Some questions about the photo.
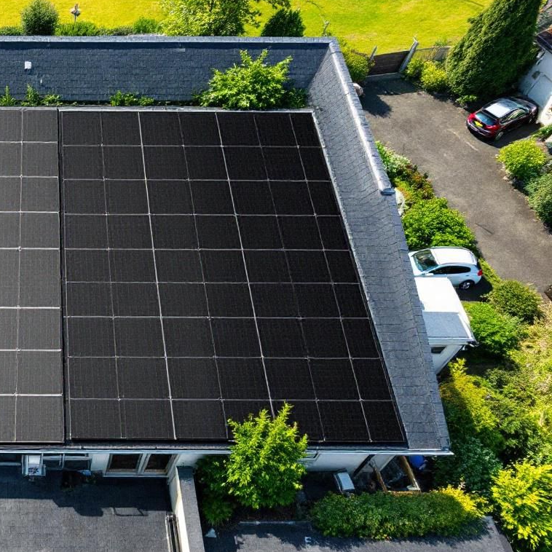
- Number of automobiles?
2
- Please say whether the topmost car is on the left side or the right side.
right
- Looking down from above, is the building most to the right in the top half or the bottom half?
top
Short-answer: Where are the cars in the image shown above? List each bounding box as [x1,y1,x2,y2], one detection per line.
[409,252,490,287]
[476,97,542,133]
